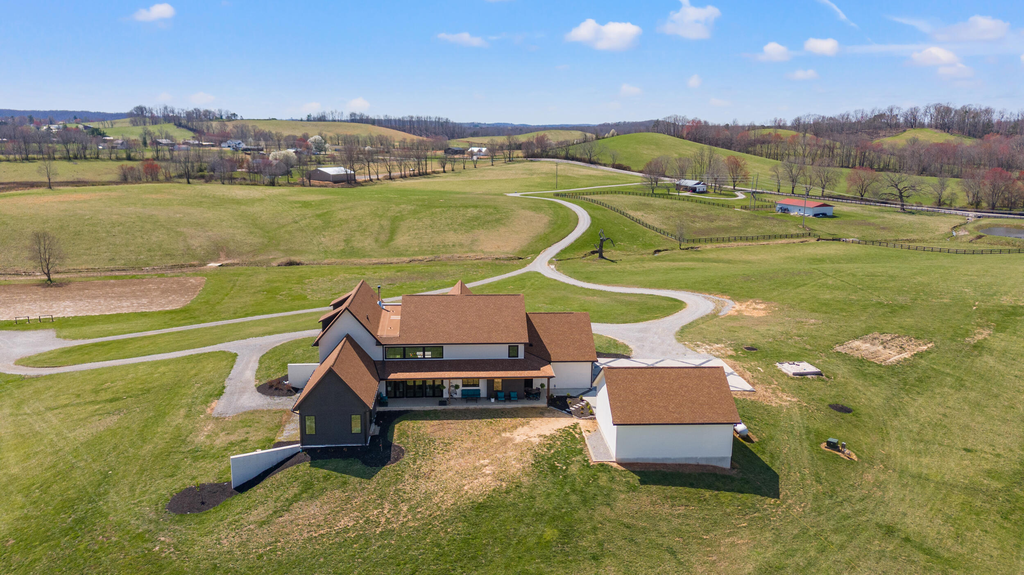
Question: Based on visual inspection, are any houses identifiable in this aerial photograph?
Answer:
Yes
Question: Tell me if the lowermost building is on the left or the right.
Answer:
right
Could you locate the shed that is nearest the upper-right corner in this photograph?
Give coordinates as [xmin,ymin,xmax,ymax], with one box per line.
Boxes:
[770,199,824,217]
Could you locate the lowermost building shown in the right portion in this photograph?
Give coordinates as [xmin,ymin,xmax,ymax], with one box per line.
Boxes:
[592,365,742,469]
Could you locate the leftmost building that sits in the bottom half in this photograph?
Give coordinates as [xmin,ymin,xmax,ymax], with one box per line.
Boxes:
[290,279,598,449]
